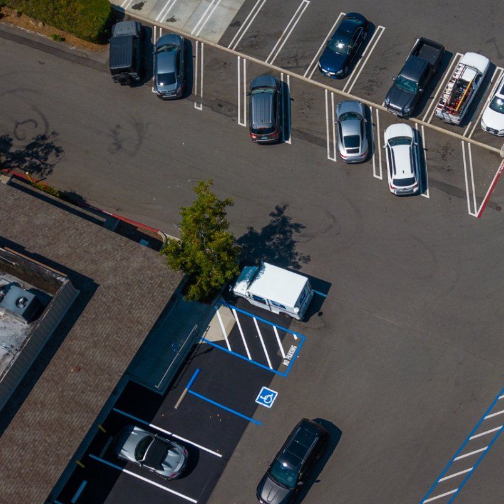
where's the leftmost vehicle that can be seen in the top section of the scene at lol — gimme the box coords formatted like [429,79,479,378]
[107,21,145,87]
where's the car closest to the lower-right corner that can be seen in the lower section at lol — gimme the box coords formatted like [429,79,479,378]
[261,417,327,504]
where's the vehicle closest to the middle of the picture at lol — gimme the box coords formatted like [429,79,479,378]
[230,262,314,321]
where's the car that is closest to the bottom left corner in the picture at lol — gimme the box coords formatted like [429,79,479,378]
[113,425,193,481]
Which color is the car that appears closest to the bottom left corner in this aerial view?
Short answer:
black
